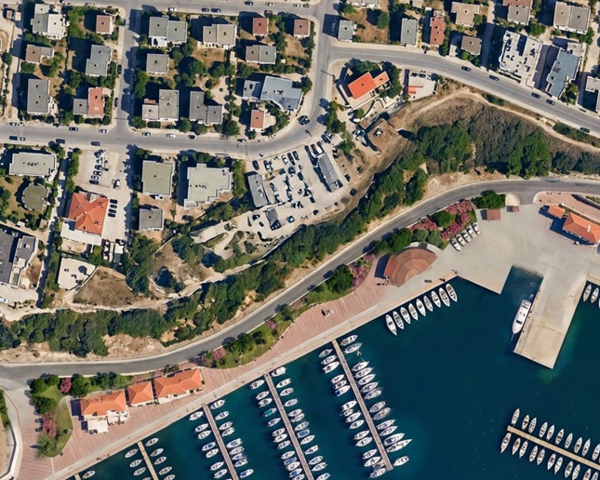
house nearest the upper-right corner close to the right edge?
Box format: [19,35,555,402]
[552,1,592,38]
